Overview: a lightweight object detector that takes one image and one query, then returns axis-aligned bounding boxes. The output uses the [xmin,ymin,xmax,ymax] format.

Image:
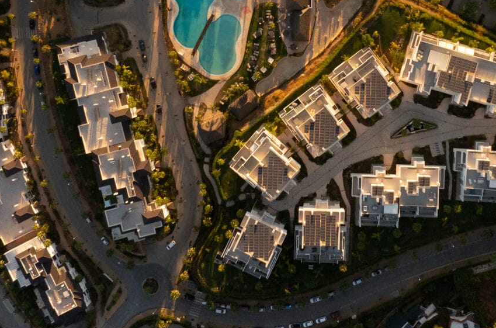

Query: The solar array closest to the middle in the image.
[262,152,289,190]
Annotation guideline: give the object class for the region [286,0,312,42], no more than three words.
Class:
building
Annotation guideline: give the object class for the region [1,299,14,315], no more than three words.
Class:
vehicle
